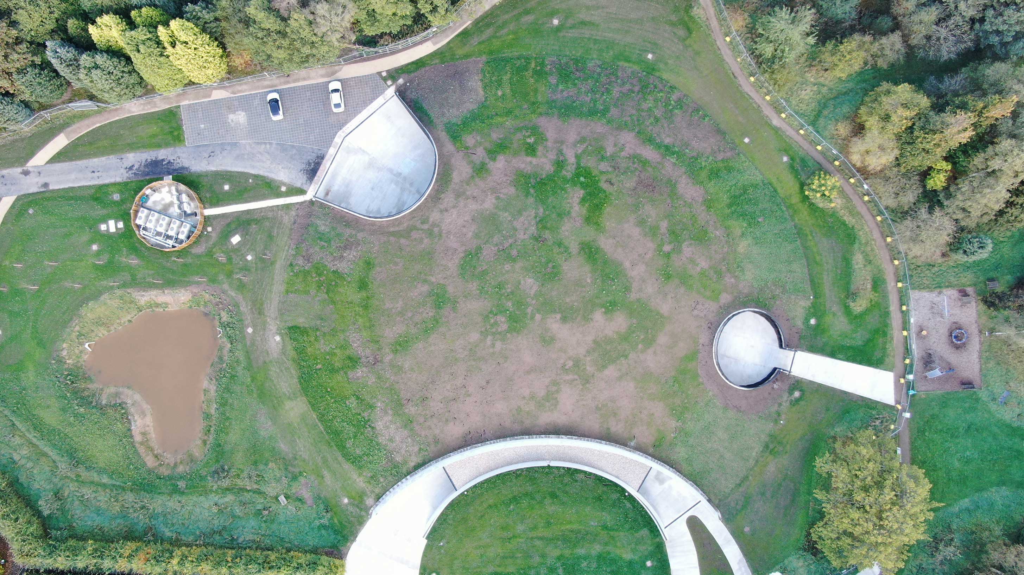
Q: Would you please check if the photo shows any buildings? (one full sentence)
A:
No, no building is visible in the view.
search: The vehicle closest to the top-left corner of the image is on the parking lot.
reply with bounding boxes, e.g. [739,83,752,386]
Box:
[265,91,283,120]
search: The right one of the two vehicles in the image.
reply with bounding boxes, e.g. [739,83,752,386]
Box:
[329,79,344,112]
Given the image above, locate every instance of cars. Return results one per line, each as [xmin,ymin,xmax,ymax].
[265,91,283,120]
[329,79,344,112]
